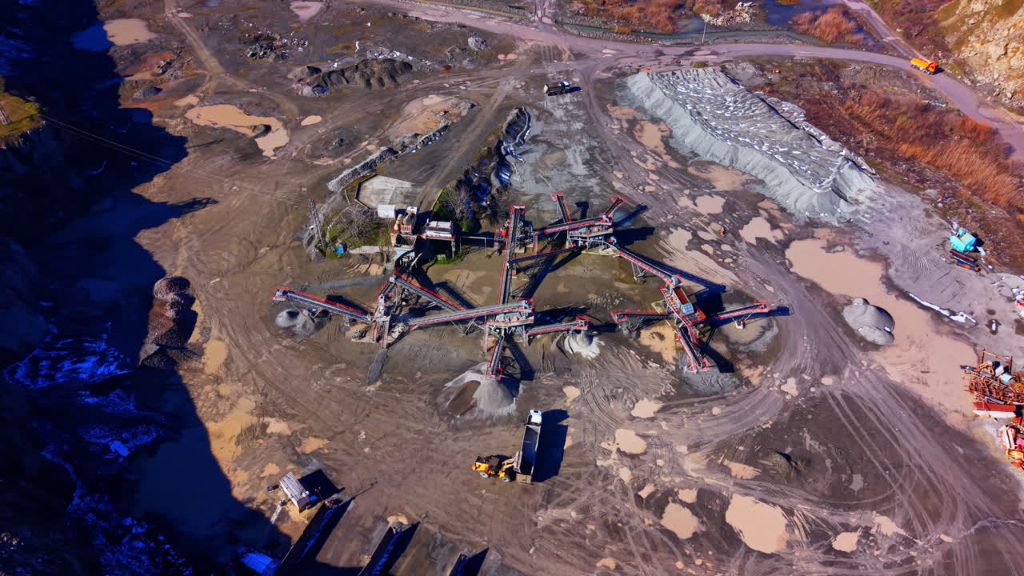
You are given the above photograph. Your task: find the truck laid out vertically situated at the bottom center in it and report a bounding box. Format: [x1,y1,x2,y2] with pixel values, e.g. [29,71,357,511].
[515,411,543,482]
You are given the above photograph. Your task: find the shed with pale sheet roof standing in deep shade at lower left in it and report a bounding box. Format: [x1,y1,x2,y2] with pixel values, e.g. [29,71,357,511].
[238,544,281,576]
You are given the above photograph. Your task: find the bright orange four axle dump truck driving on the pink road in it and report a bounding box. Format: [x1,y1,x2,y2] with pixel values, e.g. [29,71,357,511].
[911,56,940,77]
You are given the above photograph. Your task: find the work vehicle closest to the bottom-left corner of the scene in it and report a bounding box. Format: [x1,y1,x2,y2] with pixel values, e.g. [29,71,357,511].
[470,456,524,483]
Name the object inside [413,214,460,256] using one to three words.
building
